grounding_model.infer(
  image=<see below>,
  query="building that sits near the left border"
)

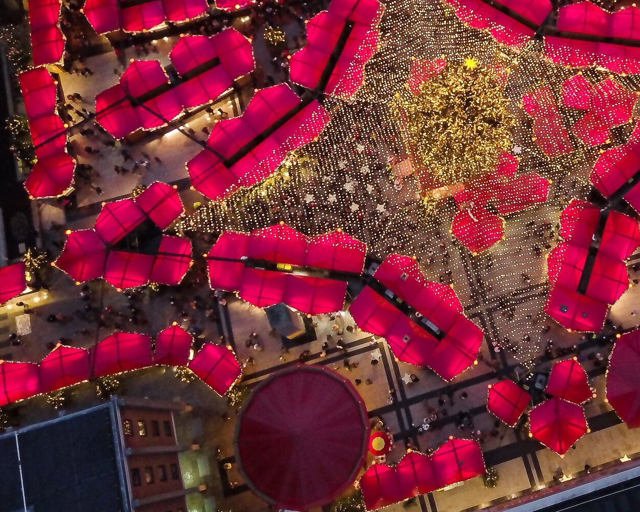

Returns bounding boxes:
[0,391,222,512]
